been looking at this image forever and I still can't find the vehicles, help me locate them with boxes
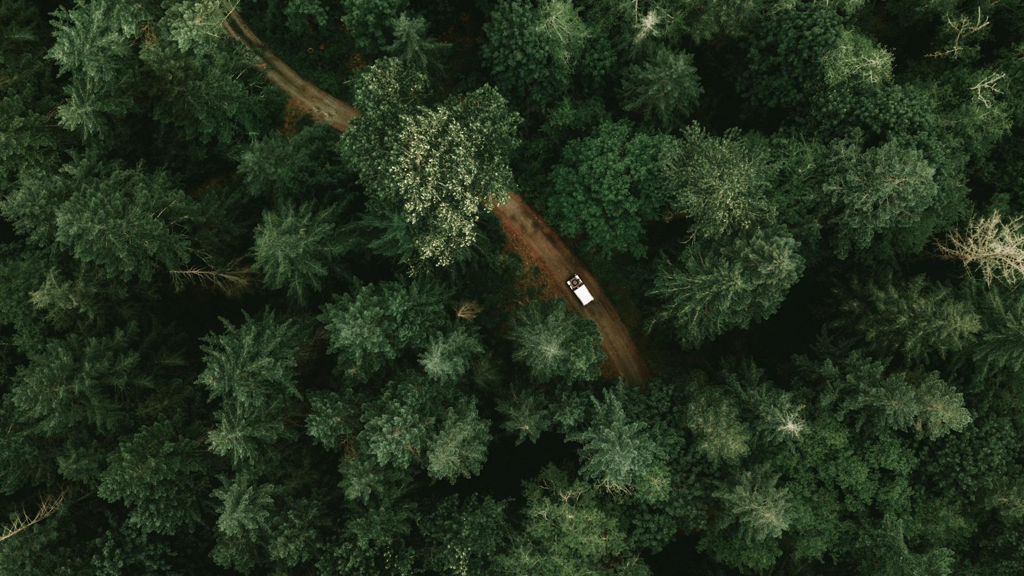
[567,274,594,306]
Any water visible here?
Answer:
No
